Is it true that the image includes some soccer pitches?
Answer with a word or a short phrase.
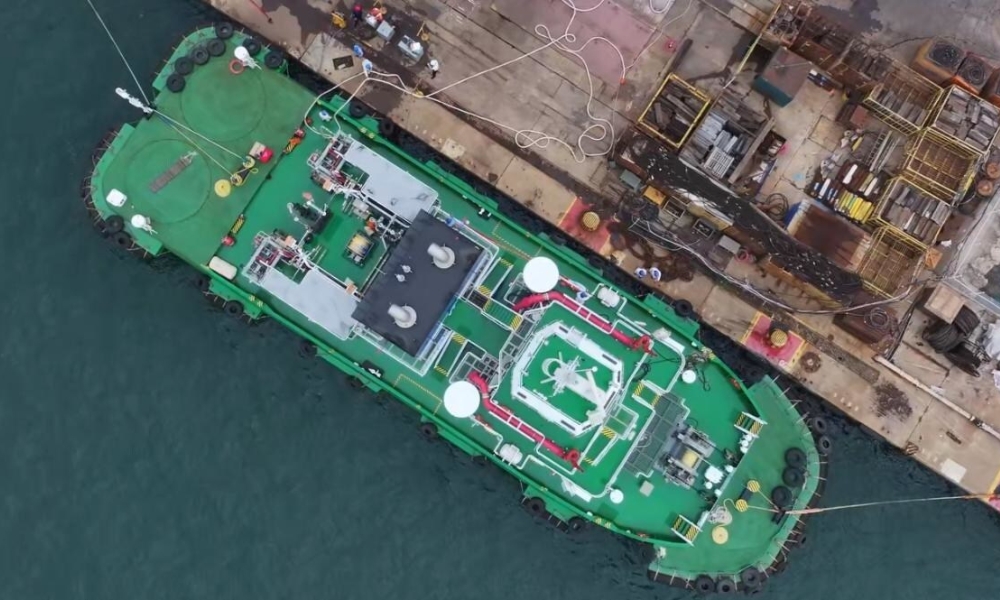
No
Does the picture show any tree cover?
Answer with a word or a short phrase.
No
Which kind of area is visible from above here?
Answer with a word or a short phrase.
port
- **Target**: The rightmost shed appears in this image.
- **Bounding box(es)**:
[759,47,812,104]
